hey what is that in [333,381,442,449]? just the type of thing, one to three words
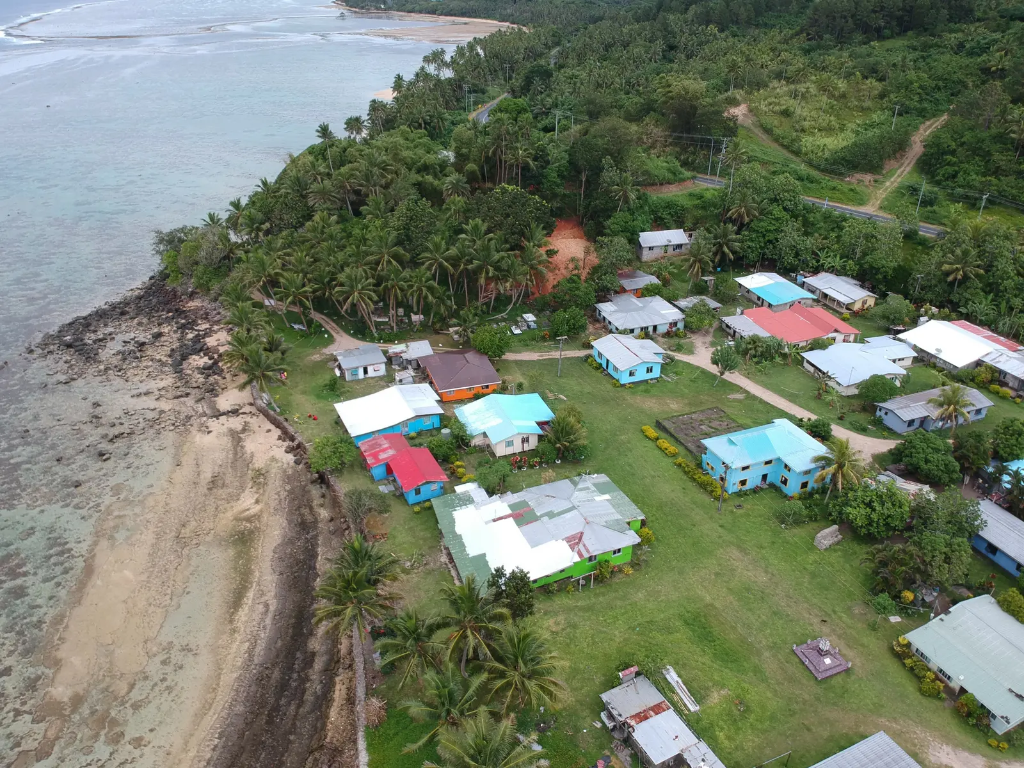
house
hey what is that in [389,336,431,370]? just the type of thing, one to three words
shed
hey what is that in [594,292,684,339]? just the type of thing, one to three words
house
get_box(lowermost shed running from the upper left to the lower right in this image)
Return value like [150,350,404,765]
[599,674,727,768]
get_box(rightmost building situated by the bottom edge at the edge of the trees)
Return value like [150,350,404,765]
[904,591,1024,737]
